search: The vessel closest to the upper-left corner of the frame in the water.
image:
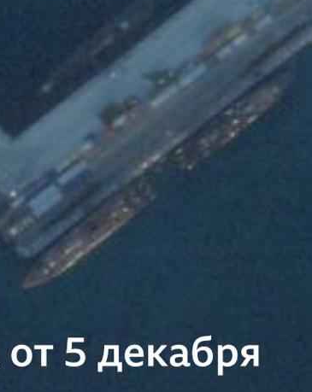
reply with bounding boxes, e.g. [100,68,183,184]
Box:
[41,0,155,95]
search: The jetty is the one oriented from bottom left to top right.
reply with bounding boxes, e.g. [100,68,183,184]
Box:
[14,0,311,256]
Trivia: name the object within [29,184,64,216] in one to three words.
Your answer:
shed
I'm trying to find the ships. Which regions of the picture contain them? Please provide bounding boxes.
[171,73,294,173]
[25,174,163,286]
[41,0,155,95]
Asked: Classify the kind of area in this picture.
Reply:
port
